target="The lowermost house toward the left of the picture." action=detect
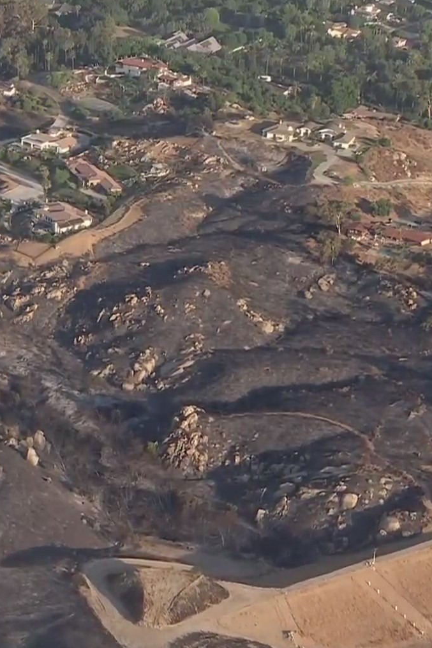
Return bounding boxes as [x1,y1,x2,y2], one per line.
[37,199,93,236]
